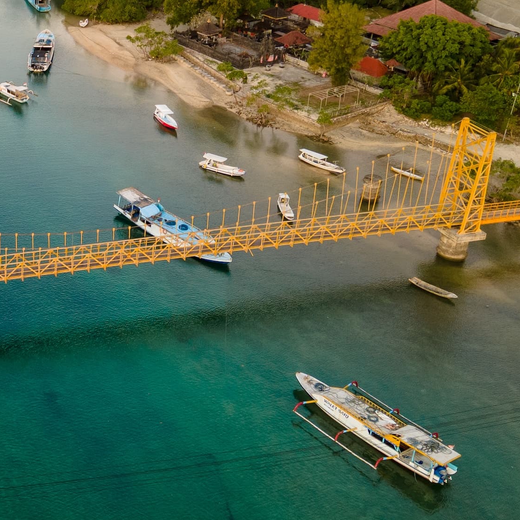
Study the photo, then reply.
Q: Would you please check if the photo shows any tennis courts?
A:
No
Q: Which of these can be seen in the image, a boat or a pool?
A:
boat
